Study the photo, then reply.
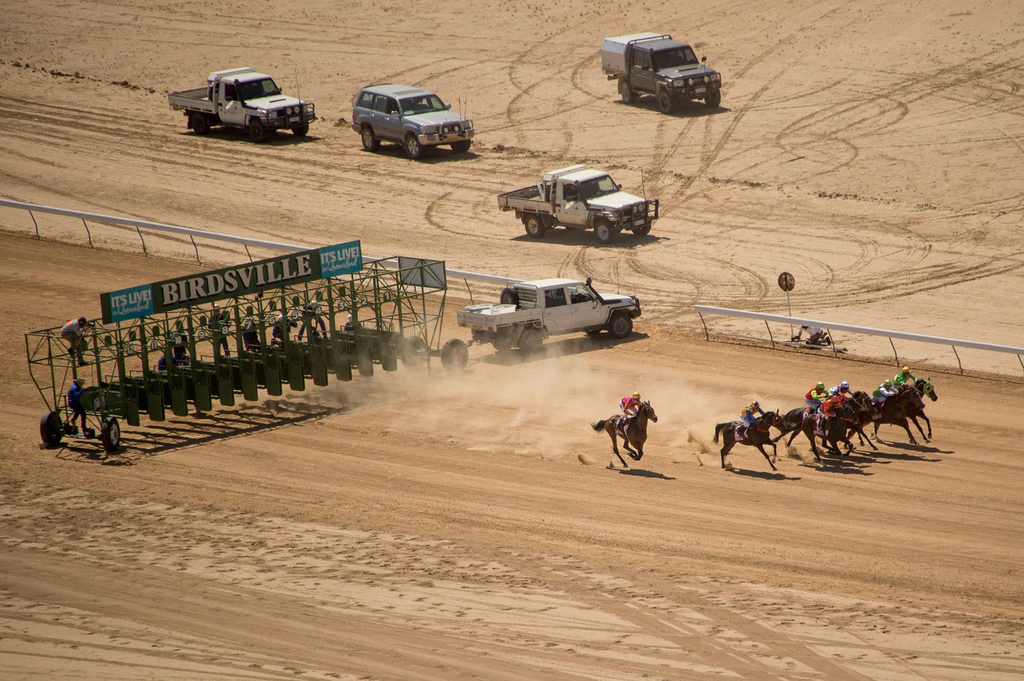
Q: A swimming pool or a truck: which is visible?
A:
truck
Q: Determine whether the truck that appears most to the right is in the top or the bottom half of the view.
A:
top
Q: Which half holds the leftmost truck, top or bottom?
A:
top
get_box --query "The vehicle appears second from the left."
[349,84,470,159]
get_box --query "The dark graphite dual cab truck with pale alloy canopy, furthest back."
[603,33,721,113]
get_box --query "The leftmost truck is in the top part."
[171,66,309,143]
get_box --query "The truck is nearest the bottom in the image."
[459,256,644,355]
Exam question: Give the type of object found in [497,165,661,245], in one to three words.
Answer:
truck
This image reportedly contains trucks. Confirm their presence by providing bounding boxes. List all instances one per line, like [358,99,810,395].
[171,66,309,143]
[459,256,644,355]
[603,33,721,113]
[497,165,661,245]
